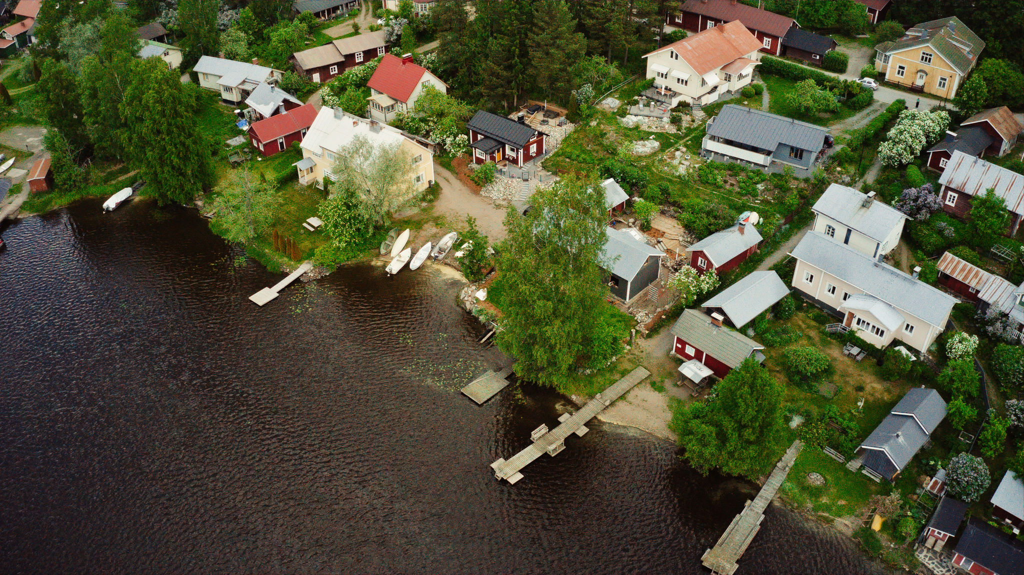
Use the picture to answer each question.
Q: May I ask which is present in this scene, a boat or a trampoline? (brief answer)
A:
boat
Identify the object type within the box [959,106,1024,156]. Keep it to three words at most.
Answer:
barn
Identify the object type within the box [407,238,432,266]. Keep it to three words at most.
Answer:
boat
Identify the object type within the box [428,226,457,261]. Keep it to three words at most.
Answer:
boat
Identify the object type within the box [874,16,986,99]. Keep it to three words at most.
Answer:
house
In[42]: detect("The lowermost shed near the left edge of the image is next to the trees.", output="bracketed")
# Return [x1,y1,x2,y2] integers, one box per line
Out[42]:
[26,158,54,193]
